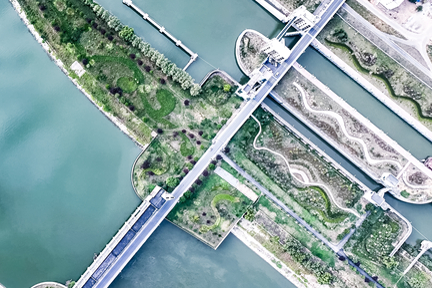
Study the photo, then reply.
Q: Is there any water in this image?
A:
Yes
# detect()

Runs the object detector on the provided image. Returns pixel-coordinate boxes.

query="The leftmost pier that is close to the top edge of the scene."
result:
[122,0,198,71]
